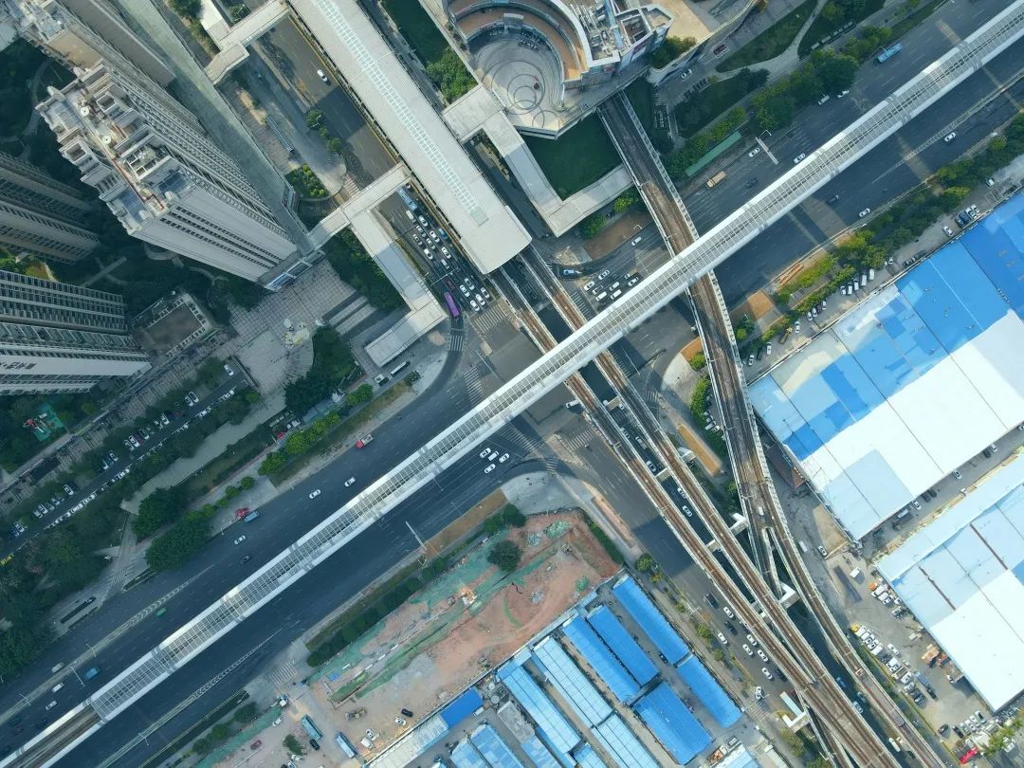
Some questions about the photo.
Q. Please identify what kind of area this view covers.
industrial area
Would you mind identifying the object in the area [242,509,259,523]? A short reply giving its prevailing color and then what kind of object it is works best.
blue vehicle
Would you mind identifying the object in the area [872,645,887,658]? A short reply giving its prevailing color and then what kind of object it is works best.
white vehicle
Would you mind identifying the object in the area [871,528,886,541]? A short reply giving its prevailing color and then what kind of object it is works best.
blue vehicle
